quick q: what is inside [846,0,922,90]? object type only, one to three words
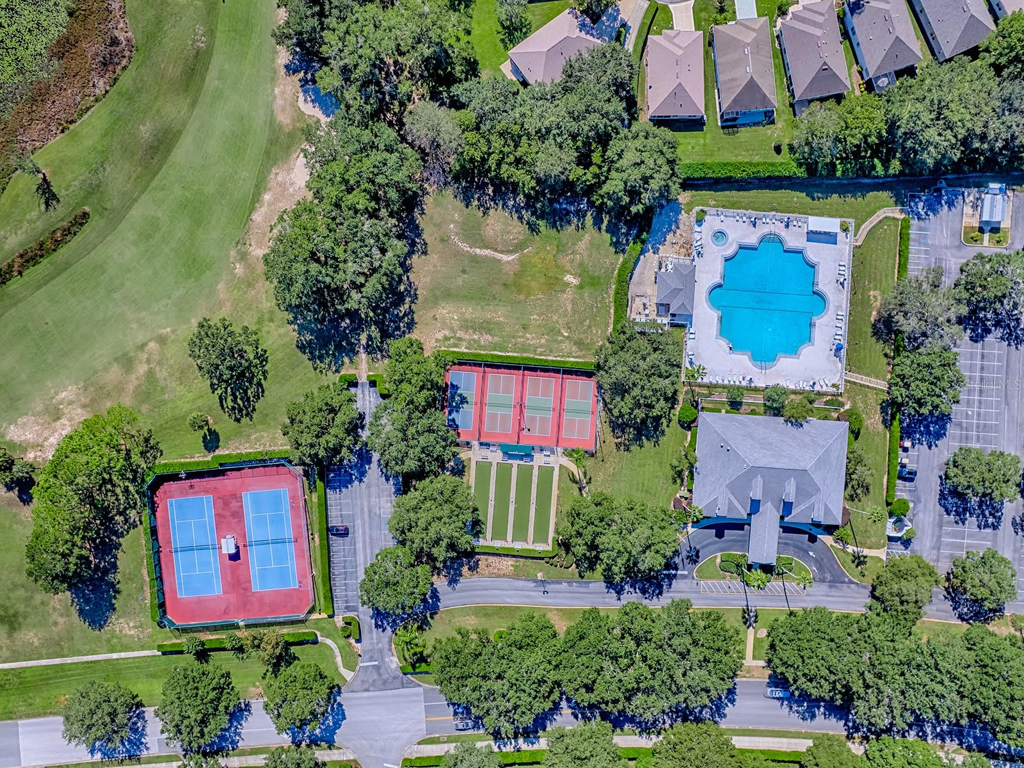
house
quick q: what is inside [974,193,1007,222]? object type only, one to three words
shed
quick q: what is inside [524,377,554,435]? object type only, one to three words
sports court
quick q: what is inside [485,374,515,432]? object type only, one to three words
sports court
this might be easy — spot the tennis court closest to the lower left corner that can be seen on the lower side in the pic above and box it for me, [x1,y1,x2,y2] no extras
[166,493,224,600]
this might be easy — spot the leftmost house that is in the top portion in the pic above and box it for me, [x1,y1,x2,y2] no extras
[508,3,606,88]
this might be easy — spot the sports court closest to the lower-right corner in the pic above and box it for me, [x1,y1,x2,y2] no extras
[563,380,593,438]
